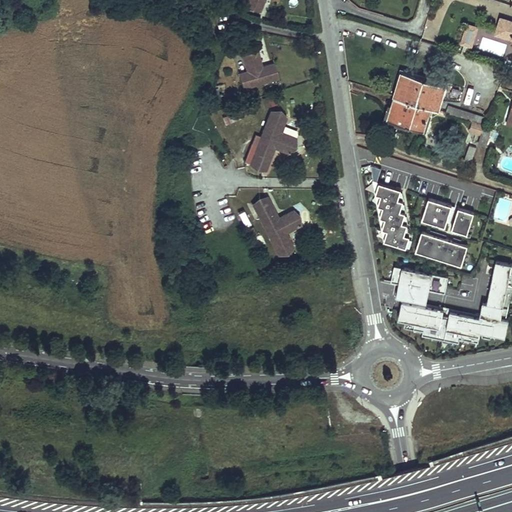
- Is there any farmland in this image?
Yes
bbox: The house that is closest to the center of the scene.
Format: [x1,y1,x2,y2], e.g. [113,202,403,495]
[252,196,305,256]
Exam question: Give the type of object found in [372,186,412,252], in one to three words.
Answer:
building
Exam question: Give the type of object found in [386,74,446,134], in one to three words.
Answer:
house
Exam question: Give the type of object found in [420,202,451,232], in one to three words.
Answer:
building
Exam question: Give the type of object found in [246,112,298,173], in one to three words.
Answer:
house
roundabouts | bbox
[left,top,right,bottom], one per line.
[340,326,432,426]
